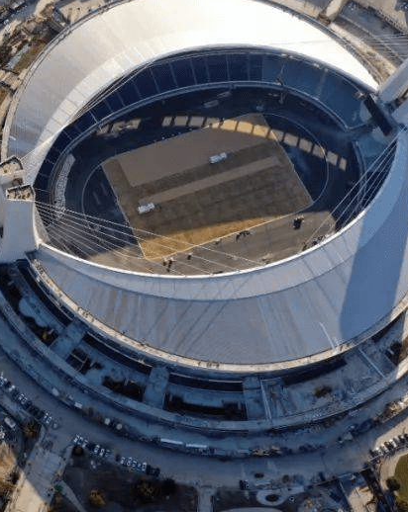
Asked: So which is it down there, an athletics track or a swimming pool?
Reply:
athletics track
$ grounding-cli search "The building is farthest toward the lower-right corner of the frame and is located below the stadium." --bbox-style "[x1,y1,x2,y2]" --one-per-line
[336,473,378,512]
